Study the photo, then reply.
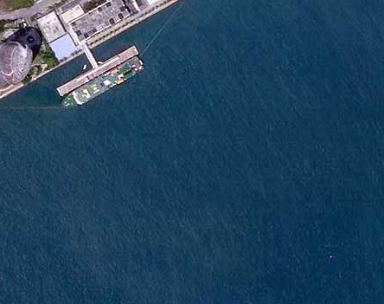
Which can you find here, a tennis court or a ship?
ship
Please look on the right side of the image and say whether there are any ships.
No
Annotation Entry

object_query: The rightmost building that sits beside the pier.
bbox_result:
[69,0,130,43]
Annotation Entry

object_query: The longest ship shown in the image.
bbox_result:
[63,58,143,105]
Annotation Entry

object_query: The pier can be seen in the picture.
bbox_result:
[58,46,138,96]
